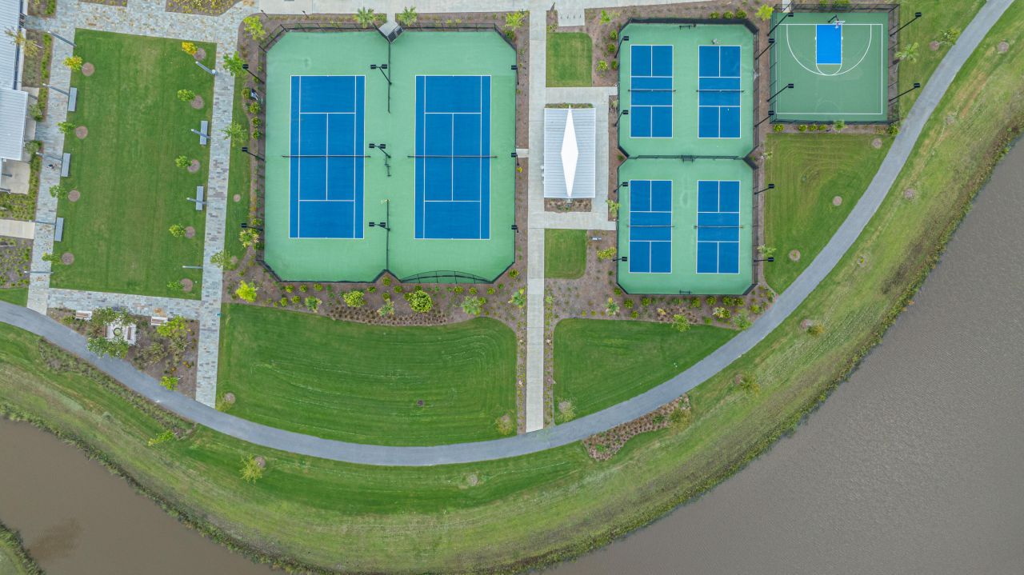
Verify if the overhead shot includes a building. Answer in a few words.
Yes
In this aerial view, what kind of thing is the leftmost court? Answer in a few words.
tennis court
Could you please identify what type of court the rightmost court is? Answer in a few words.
basketball court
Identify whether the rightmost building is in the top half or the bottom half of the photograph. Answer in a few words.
top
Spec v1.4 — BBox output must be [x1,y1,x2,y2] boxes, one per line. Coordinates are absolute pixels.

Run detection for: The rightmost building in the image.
[543,106,597,205]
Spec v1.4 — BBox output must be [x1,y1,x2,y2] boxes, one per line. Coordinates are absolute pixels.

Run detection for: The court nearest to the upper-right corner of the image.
[770,12,888,123]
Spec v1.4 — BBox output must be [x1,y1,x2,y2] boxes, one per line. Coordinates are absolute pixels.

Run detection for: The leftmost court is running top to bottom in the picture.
[264,31,388,281]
